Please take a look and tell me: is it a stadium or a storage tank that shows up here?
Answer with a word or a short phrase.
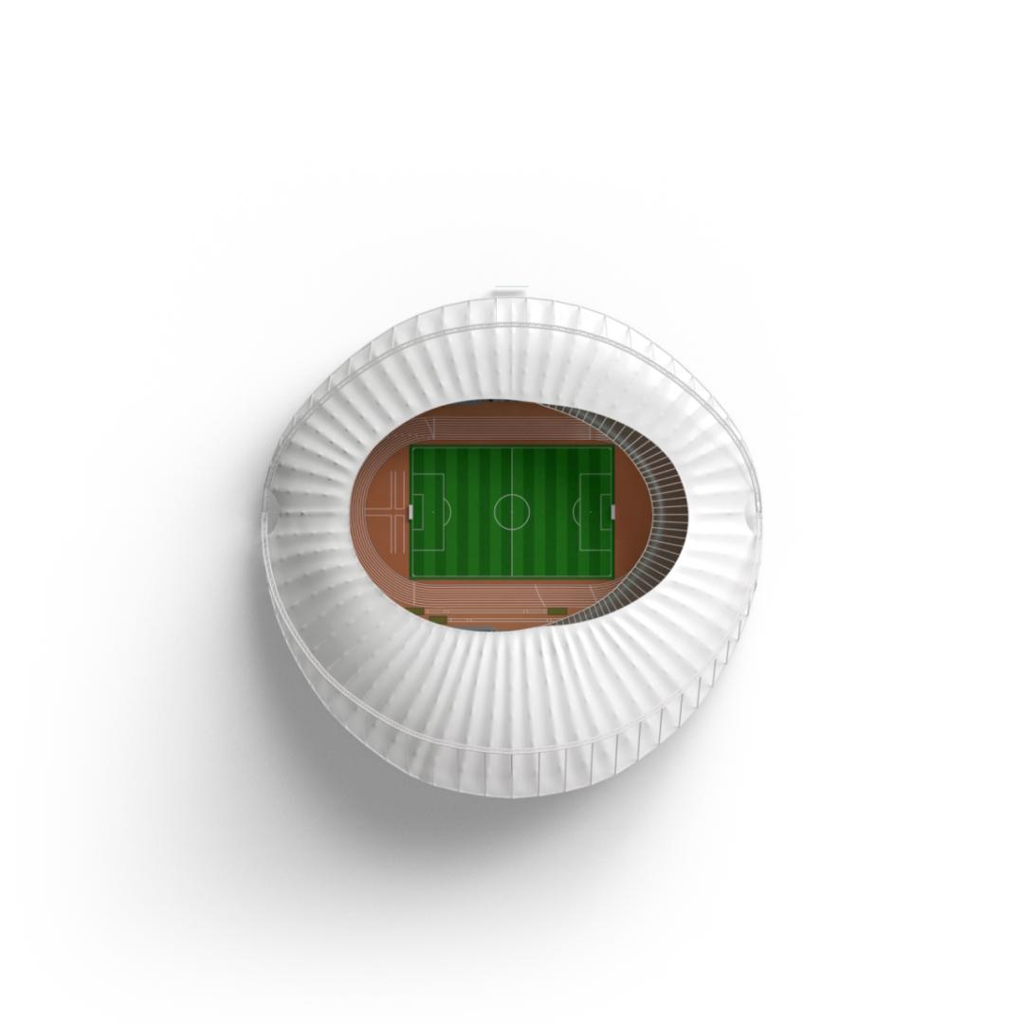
stadium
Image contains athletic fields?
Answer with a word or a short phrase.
Yes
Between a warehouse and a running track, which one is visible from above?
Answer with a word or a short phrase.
running track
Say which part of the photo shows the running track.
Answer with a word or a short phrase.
center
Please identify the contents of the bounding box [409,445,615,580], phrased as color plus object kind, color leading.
green sports field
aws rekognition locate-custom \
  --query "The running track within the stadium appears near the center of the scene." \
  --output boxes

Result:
[351,400,652,631]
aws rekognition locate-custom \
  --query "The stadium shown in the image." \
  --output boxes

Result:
[261,296,763,799]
